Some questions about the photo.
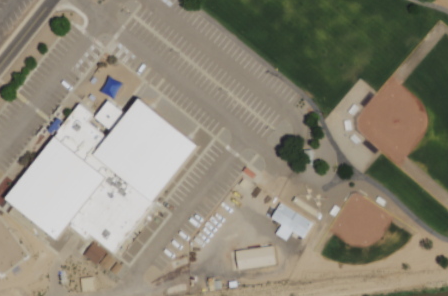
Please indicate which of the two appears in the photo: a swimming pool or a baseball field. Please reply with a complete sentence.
The one in the frame is a baseball field.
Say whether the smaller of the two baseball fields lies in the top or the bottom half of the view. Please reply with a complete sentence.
The bottom half of the photo is where the smaller of the two baseball fields is.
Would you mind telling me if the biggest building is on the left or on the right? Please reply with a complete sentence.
It is on the left.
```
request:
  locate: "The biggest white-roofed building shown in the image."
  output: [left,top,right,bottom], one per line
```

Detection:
[5,98,198,254]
